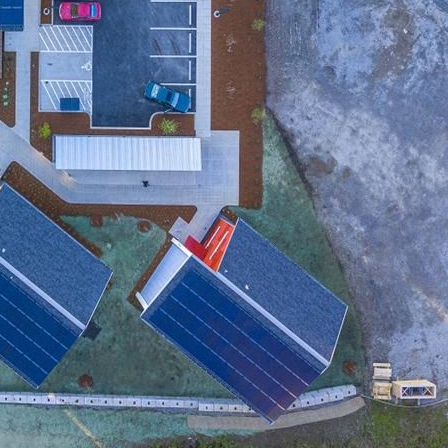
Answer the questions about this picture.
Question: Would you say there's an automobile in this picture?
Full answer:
Yes, there's an automobile down there.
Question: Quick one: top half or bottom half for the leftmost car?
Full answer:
It is in the top half that the leftmost car appears.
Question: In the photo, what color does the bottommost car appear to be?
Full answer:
The bottommost car looks blue in the image.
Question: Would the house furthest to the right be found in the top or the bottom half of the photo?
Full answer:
You can find the house furthest to the right in the bottom half.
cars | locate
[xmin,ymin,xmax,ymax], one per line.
[60,0,102,21]
[146,80,195,114]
